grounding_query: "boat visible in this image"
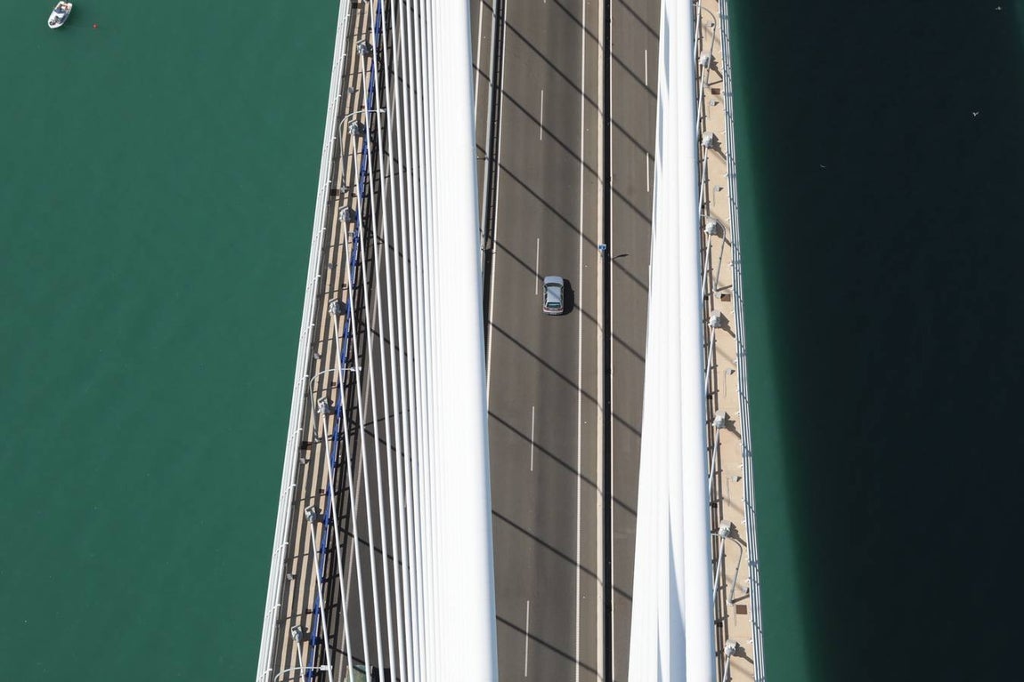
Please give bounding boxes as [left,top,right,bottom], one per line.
[49,0,72,30]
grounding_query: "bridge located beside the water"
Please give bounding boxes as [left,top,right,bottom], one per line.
[263,0,764,682]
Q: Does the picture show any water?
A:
Yes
